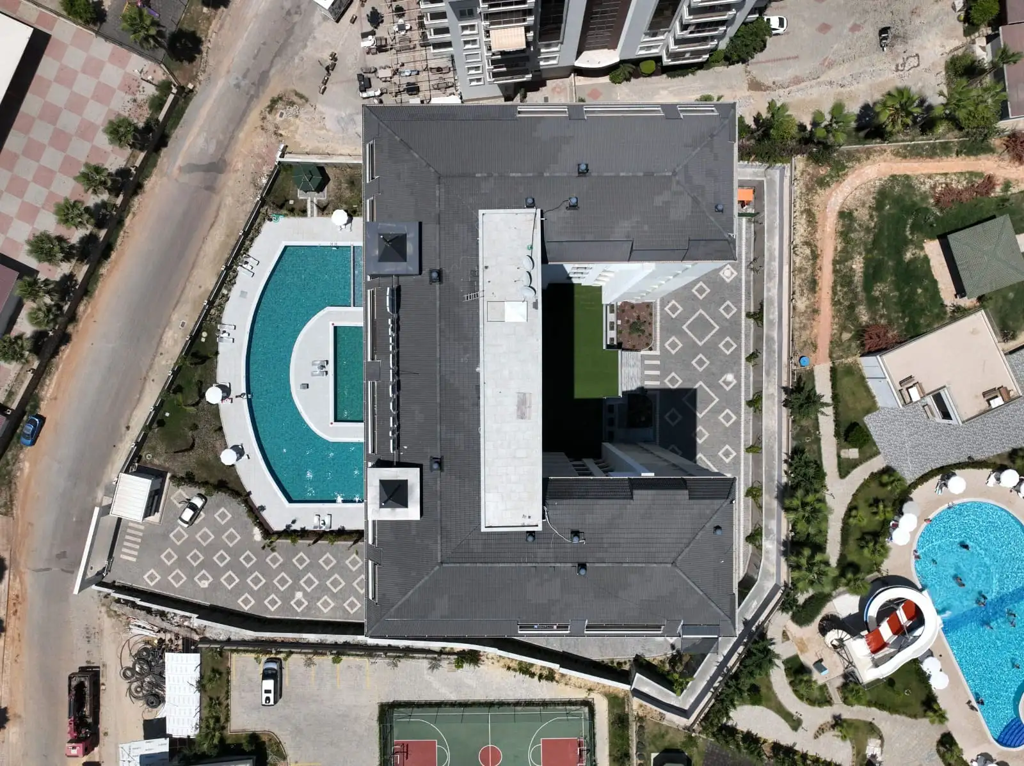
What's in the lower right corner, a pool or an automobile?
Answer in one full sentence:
There is a pool in the lower right corner.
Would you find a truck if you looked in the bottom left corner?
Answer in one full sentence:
Yes, you'll find a truck in the bottom left corner.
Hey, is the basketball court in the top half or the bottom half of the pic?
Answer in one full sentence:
The bottom half of the photo is where the basketball court is.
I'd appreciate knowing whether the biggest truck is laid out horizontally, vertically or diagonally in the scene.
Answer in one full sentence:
In this picture, the biggest truck is oriented vertically.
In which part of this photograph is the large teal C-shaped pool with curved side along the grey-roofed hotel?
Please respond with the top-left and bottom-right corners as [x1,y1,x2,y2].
[243,240,364,507]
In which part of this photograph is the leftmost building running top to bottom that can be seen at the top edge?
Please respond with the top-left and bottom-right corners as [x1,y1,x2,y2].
[0,10,49,127]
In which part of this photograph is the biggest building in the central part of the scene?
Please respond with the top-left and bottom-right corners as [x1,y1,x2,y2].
[362,102,738,639]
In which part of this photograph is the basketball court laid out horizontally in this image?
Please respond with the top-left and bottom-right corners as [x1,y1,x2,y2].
[384,706,591,766]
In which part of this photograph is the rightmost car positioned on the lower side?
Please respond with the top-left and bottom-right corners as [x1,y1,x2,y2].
[259,659,281,708]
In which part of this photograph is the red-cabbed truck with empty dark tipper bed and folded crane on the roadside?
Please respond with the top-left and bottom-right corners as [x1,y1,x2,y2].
[63,663,101,756]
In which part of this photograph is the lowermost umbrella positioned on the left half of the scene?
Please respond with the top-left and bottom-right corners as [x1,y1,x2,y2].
[219,447,239,465]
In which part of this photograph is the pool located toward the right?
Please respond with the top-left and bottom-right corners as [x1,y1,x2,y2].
[912,497,1024,752]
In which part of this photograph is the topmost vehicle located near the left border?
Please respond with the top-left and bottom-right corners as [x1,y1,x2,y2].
[17,411,44,448]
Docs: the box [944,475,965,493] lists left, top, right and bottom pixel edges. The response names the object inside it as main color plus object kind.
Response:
white umbrella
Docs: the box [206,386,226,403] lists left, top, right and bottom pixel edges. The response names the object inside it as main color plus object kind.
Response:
white umbrella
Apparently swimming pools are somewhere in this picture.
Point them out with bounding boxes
[912,497,1024,752]
[243,240,364,507]
[331,322,364,426]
